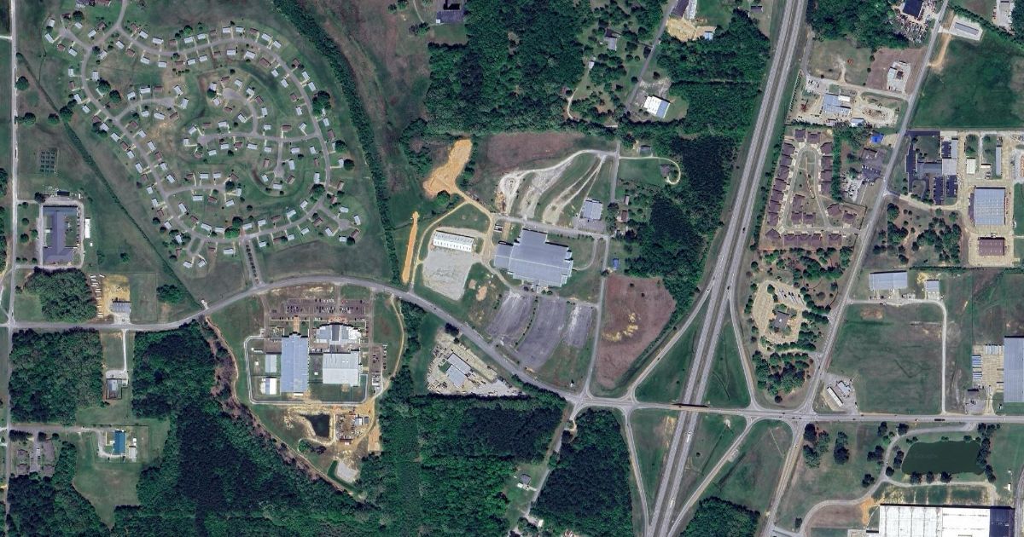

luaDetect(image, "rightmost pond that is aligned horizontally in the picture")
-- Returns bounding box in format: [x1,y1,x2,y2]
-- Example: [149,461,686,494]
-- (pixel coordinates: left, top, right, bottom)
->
[902,441,986,475]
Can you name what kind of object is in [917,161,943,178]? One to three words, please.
building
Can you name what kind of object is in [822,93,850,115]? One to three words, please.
building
